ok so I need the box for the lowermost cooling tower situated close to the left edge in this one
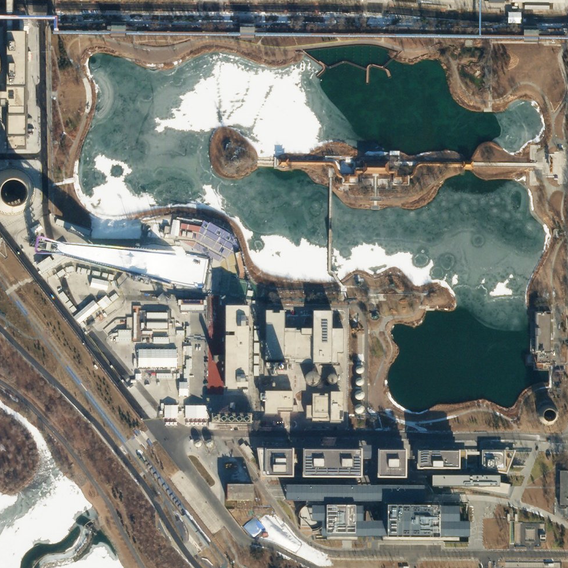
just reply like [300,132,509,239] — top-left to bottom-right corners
[0,166,36,215]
